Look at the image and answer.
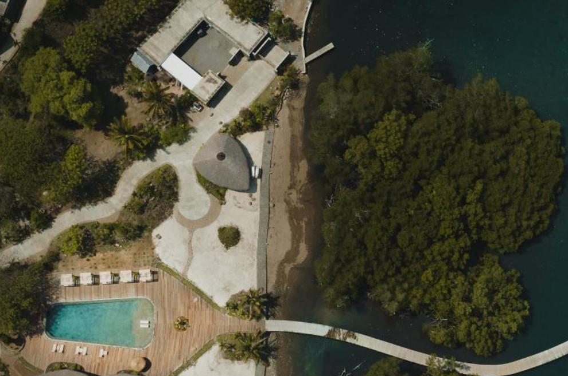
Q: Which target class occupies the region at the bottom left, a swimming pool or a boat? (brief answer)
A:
swimming pool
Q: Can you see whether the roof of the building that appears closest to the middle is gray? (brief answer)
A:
Yes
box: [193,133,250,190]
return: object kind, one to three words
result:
building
